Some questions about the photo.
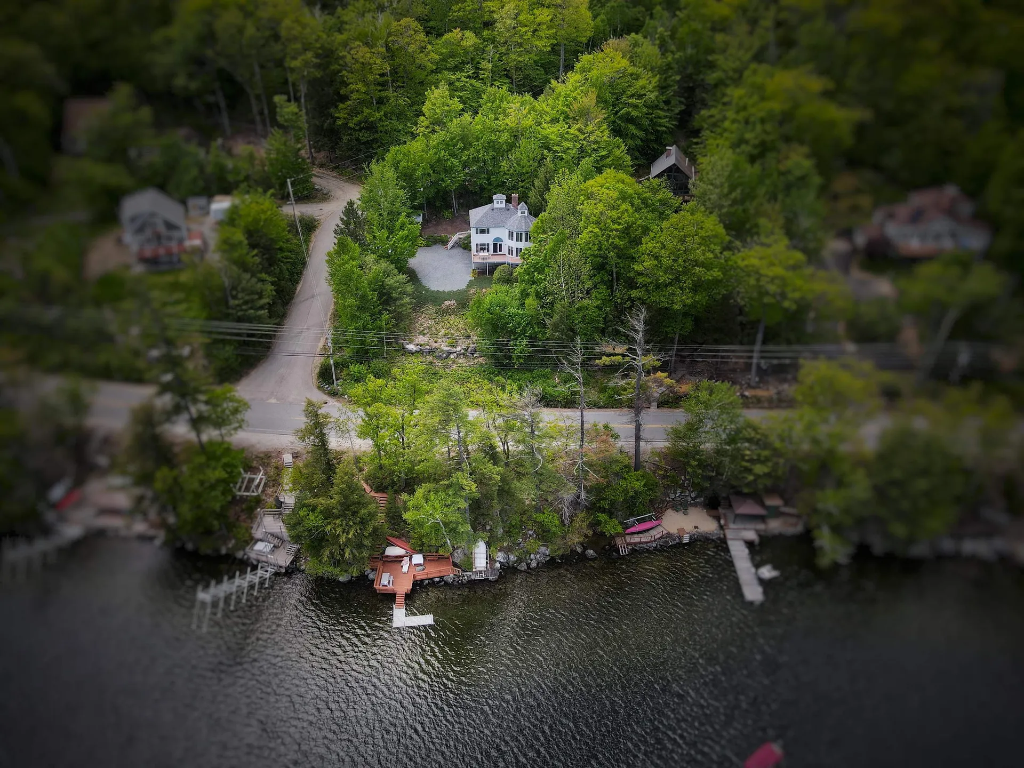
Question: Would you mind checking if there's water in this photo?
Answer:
Yes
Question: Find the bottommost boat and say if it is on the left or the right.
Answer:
right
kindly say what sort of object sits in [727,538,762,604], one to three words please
pier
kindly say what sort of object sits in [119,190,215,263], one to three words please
house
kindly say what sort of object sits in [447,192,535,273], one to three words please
house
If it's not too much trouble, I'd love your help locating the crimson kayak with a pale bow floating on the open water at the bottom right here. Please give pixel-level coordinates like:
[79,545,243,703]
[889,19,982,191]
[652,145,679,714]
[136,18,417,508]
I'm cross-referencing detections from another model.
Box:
[740,744,781,768]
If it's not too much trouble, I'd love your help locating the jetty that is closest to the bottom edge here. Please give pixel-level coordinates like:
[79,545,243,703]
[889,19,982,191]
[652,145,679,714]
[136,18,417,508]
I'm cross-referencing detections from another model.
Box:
[393,603,434,628]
